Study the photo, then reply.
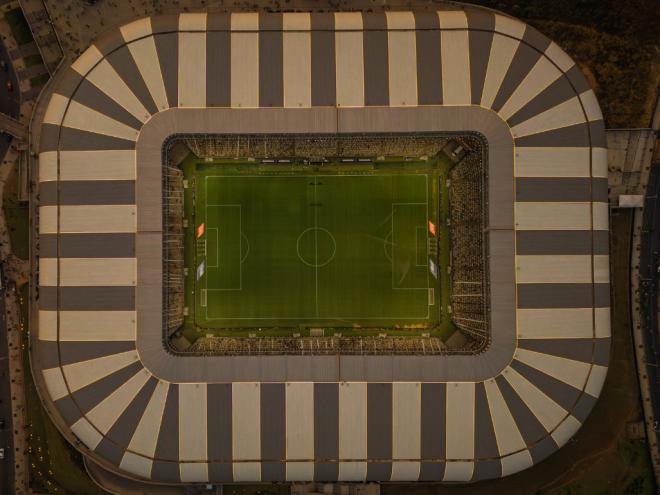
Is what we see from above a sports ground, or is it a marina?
sports ground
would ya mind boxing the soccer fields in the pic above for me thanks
[170,148,465,347]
